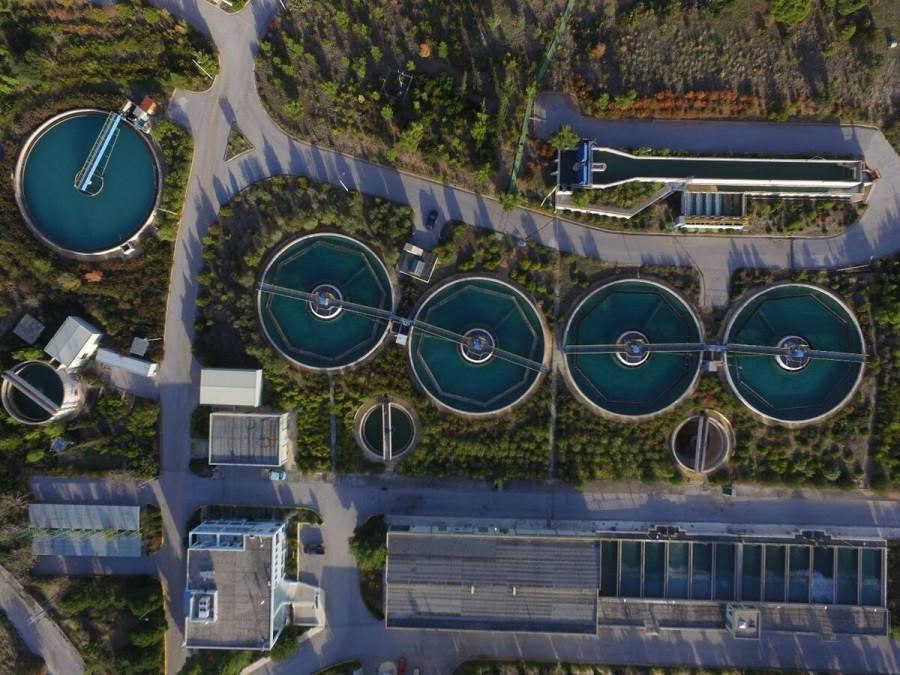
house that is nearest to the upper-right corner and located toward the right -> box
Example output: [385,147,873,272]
[675,193,750,231]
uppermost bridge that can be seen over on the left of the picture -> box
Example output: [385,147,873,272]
[73,108,123,199]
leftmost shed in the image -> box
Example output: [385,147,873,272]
[11,313,48,345]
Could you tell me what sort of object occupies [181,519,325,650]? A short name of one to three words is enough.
building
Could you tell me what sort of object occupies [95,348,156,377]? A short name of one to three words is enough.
shed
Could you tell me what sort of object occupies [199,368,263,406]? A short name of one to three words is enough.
shed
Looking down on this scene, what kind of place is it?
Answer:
industrial area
